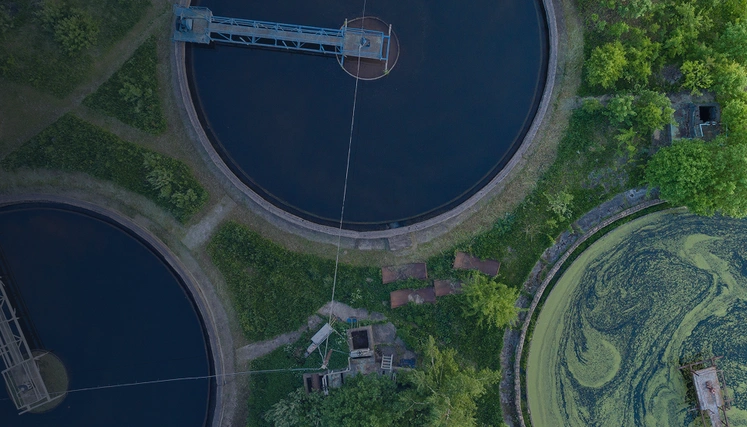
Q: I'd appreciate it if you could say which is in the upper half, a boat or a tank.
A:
tank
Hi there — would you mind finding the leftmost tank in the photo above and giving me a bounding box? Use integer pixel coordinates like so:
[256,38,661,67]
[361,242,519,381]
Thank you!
[0,193,226,427]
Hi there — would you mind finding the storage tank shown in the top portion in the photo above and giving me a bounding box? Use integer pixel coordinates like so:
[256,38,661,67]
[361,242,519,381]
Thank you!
[175,0,557,238]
